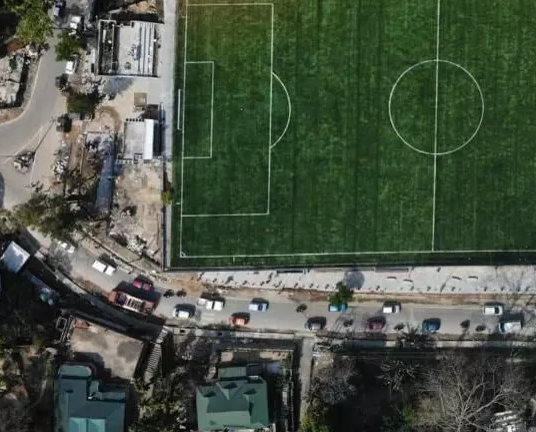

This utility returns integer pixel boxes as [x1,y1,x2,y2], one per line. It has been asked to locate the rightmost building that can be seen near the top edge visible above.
[98,19,160,79]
